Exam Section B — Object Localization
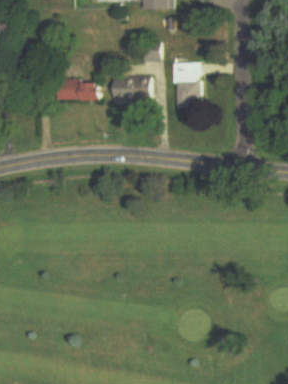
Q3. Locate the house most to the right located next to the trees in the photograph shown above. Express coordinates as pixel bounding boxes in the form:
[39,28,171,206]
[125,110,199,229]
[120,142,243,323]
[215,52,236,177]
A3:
[174,57,204,109]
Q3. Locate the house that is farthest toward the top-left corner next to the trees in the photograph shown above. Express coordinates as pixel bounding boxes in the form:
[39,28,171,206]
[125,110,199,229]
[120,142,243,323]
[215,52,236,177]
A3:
[57,78,102,101]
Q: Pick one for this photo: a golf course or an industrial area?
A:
golf course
